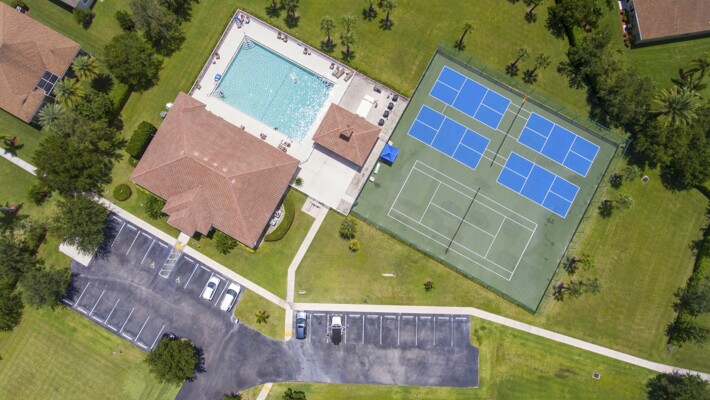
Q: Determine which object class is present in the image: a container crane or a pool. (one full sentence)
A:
It is a pool that can be seen here.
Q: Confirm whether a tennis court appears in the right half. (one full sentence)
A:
Yes, a tennis court can be seen in the right half.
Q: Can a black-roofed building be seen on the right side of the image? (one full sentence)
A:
No, no black-roofed building can be made out on the right side of the image.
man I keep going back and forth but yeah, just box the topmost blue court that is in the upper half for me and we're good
[429,66,512,130]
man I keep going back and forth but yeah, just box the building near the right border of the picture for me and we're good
[623,0,710,46]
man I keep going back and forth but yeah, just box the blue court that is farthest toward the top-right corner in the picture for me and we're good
[517,112,601,177]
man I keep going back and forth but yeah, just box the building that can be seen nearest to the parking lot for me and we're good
[132,92,302,247]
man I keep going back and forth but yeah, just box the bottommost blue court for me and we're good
[496,152,581,218]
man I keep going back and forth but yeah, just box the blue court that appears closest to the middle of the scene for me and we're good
[408,105,490,169]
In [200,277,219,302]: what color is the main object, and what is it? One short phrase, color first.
white car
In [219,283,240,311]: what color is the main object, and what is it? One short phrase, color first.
white car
